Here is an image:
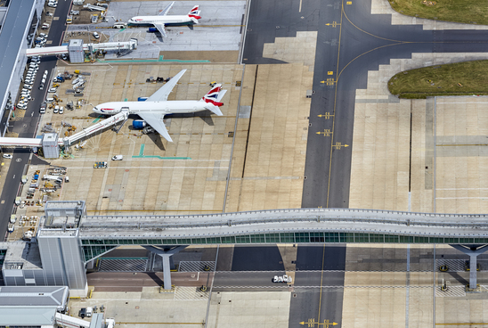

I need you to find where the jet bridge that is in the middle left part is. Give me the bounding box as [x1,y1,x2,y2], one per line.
[63,107,134,156]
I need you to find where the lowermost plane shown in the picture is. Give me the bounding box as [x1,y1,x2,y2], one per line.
[93,72,226,139]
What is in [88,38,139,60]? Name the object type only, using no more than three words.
jet bridge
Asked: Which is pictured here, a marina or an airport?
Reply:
airport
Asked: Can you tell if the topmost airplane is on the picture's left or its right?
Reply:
left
